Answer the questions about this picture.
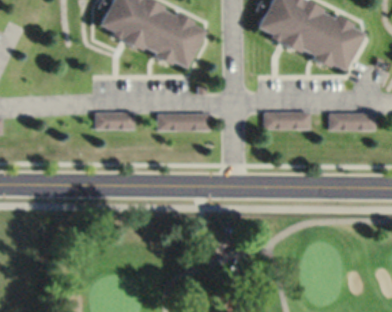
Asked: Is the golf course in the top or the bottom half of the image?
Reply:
bottom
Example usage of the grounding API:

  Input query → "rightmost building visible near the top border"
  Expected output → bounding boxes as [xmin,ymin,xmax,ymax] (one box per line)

[258,0,364,75]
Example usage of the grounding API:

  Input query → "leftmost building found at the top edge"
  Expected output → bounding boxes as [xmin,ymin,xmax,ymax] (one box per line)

[102,0,208,70]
